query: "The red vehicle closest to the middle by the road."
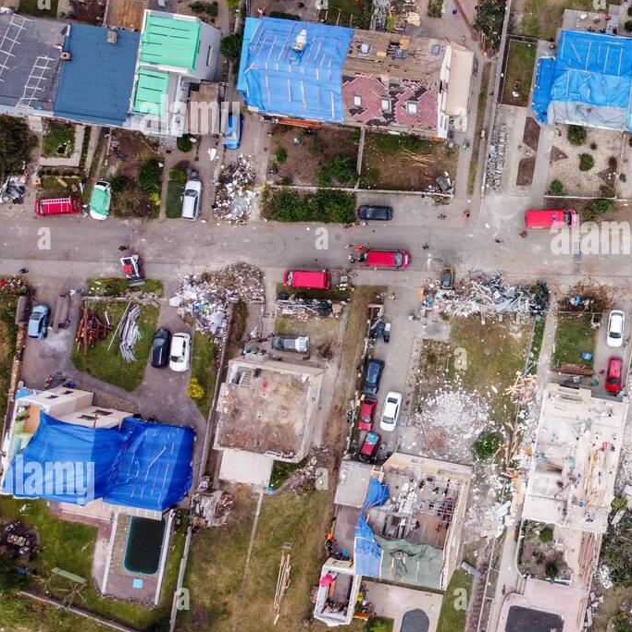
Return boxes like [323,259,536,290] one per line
[281,268,329,291]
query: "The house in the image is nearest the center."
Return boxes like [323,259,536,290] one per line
[215,352,335,459]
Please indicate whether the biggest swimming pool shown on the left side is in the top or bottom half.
bottom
